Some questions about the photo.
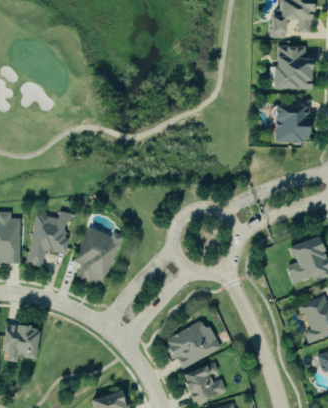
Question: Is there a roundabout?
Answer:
Yes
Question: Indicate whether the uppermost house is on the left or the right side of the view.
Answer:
right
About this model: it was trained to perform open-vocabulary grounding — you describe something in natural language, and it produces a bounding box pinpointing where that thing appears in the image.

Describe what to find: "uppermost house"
[272,0,315,38]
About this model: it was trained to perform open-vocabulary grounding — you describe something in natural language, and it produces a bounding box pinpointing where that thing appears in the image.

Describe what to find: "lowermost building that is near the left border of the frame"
[4,324,40,363]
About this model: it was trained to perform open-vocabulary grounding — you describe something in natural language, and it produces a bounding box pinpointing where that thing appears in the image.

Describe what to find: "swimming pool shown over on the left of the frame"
[88,213,121,236]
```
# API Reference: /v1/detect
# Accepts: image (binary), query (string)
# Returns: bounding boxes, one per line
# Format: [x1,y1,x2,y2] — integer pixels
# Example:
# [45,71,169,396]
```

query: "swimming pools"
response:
[88,213,121,236]
[260,104,275,128]
[292,313,308,342]
[312,357,328,393]
[262,0,278,23]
